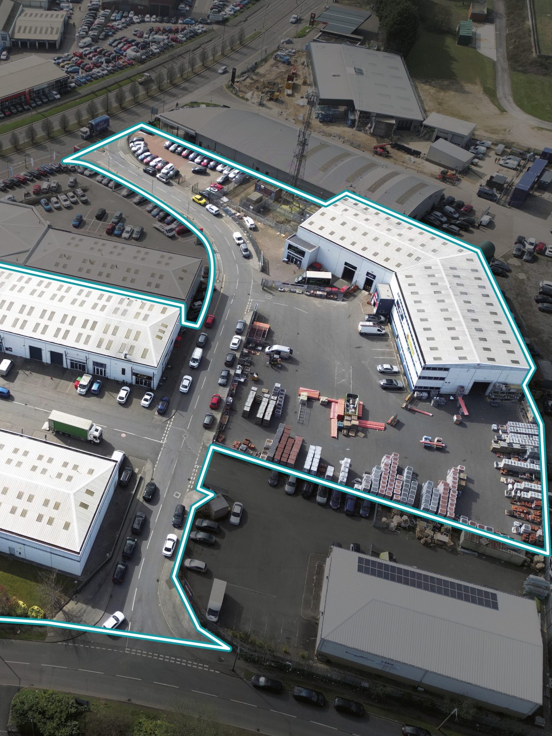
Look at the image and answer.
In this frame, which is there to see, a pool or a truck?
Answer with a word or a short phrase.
truck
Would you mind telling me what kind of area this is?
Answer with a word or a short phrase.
industrial area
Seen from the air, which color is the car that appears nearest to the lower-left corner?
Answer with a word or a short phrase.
white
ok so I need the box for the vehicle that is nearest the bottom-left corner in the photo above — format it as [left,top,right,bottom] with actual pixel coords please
[101,609,126,635]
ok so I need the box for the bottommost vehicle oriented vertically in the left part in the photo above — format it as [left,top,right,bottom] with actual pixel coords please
[205,578,228,624]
